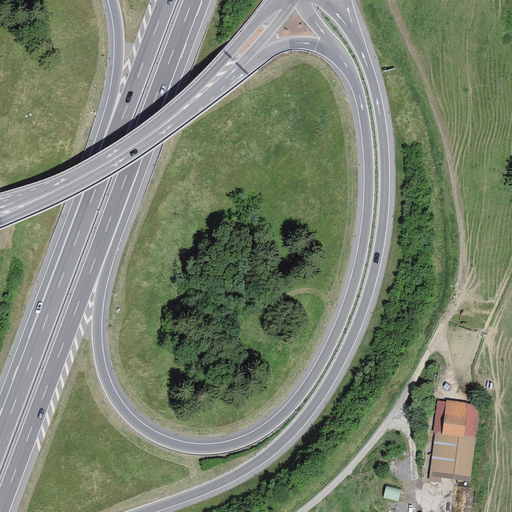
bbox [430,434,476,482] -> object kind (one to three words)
shed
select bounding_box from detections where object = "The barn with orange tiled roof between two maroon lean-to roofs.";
[434,400,478,437]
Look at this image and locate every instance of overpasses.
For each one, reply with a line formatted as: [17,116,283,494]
[0,51,249,228]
